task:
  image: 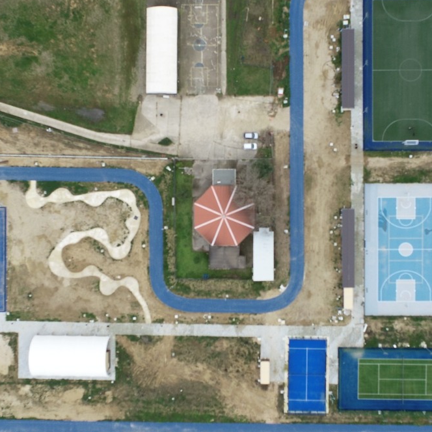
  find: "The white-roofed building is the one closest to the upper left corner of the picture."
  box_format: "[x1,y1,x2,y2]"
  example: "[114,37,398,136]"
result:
[147,3,180,96]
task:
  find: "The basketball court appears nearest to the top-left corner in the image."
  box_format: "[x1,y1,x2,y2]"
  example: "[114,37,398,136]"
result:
[146,0,221,95]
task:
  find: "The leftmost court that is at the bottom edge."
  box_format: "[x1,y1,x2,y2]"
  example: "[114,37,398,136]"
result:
[285,337,329,414]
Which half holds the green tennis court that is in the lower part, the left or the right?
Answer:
right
